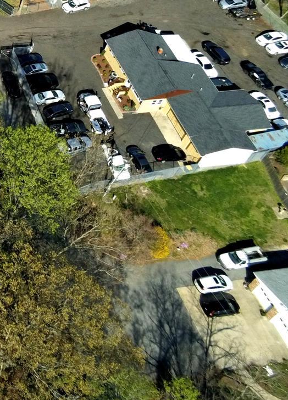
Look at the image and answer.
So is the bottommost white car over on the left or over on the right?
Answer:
right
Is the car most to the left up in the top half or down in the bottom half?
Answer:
top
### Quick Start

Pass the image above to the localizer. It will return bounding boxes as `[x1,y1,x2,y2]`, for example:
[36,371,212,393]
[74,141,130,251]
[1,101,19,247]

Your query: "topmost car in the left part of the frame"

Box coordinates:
[62,0,92,14]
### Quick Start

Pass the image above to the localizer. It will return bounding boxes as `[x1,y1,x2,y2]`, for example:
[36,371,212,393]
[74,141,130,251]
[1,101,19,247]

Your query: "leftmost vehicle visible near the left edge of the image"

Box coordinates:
[0,70,22,100]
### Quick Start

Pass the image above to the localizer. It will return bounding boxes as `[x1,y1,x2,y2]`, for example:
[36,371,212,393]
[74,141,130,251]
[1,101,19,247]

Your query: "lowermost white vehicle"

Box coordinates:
[188,273,236,295]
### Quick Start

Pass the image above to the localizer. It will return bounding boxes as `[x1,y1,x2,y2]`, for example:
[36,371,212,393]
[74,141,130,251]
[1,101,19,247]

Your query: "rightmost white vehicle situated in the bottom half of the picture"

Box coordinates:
[214,247,268,269]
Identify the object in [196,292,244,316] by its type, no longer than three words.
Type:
car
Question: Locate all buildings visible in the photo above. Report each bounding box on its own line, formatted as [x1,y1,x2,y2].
[101,30,273,171]
[241,267,288,364]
